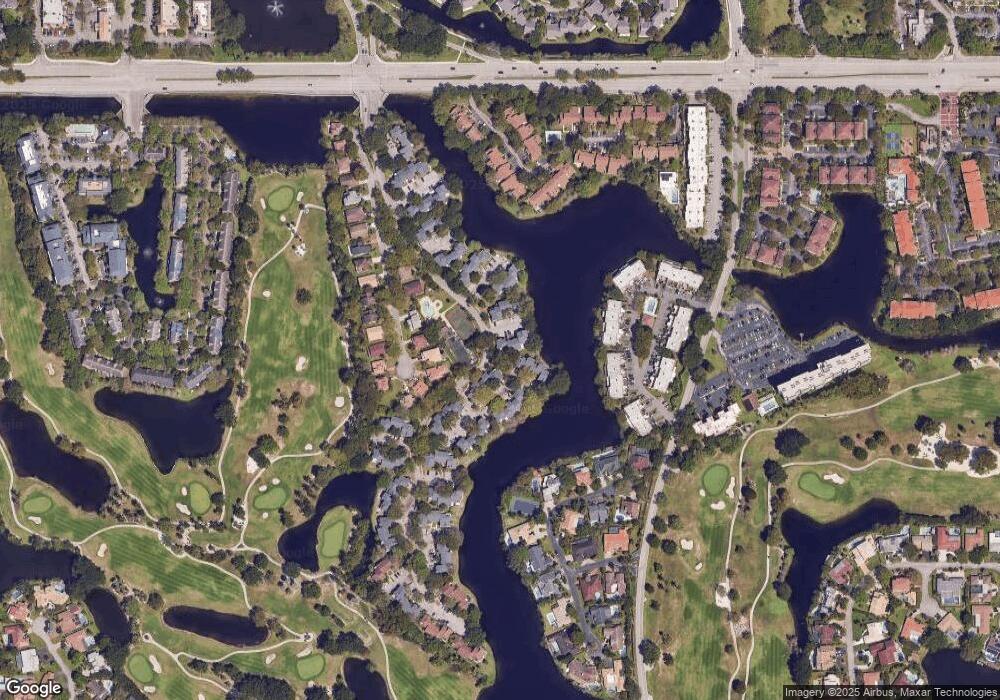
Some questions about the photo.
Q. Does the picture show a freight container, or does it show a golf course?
golf course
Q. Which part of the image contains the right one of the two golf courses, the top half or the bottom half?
bottom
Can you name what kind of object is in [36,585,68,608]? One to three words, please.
house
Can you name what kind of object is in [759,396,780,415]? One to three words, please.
swimming pool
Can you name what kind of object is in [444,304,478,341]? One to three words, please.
tennis court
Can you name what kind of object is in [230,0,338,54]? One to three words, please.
pond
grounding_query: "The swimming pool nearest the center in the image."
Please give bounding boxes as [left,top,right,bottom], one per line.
[420,297,441,319]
